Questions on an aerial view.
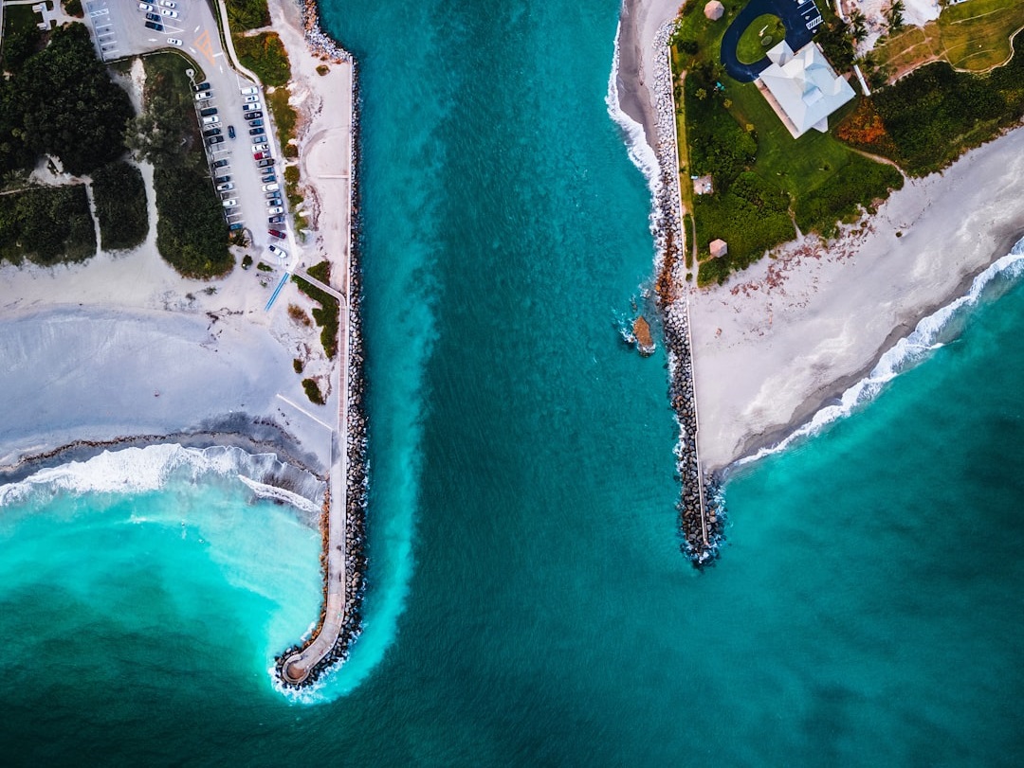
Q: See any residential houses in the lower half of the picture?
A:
No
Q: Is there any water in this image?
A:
Yes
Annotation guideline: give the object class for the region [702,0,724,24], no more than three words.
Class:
gazebo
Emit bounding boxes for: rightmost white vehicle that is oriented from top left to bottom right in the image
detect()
[269,244,288,258]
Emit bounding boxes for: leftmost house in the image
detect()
[752,40,856,139]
